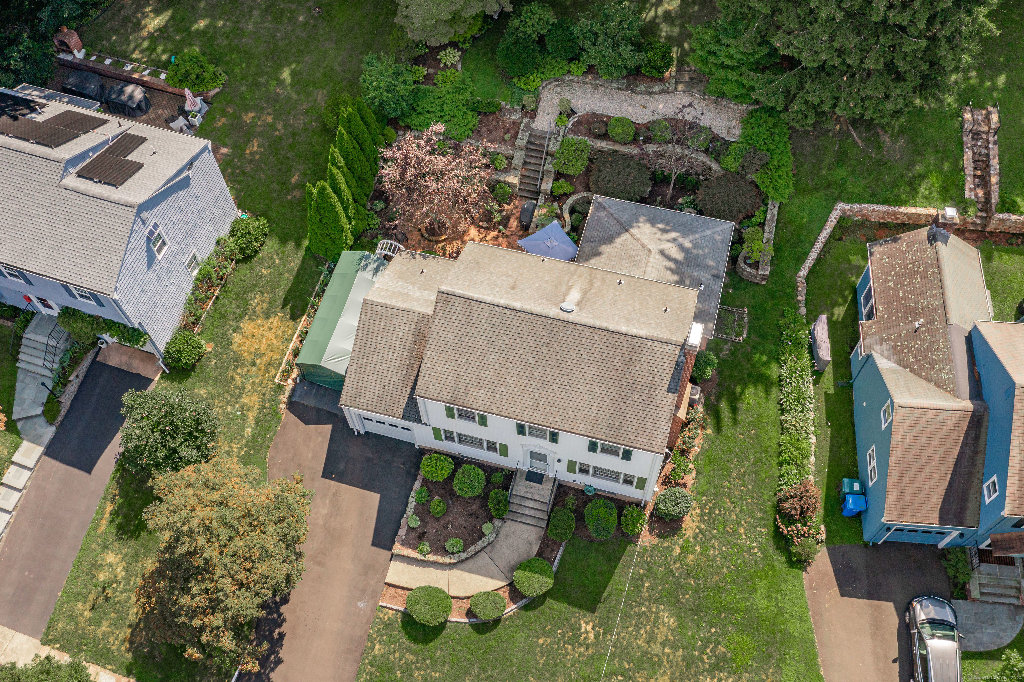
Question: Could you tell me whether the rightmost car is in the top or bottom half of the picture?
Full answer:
The bottom half of the photo is where the rightmost car is.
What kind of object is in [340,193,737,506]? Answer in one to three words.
house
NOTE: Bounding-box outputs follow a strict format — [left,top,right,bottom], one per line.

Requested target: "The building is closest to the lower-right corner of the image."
[845,206,1024,582]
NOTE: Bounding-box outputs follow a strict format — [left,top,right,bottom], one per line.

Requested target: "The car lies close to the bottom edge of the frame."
[901,600,958,682]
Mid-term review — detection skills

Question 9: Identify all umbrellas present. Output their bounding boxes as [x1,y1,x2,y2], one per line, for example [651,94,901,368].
[518,221,577,259]
[183,89,196,111]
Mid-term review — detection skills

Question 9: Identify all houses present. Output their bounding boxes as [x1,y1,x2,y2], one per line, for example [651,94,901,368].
[845,206,1024,582]
[340,193,737,506]
[0,87,239,371]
